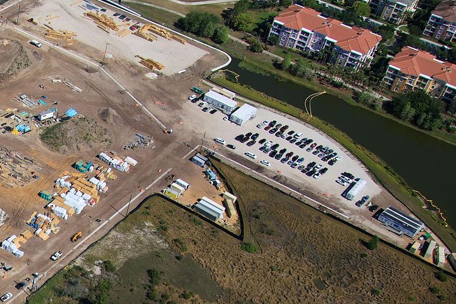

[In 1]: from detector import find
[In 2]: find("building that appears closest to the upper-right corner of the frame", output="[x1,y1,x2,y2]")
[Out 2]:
[423,5,456,48]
